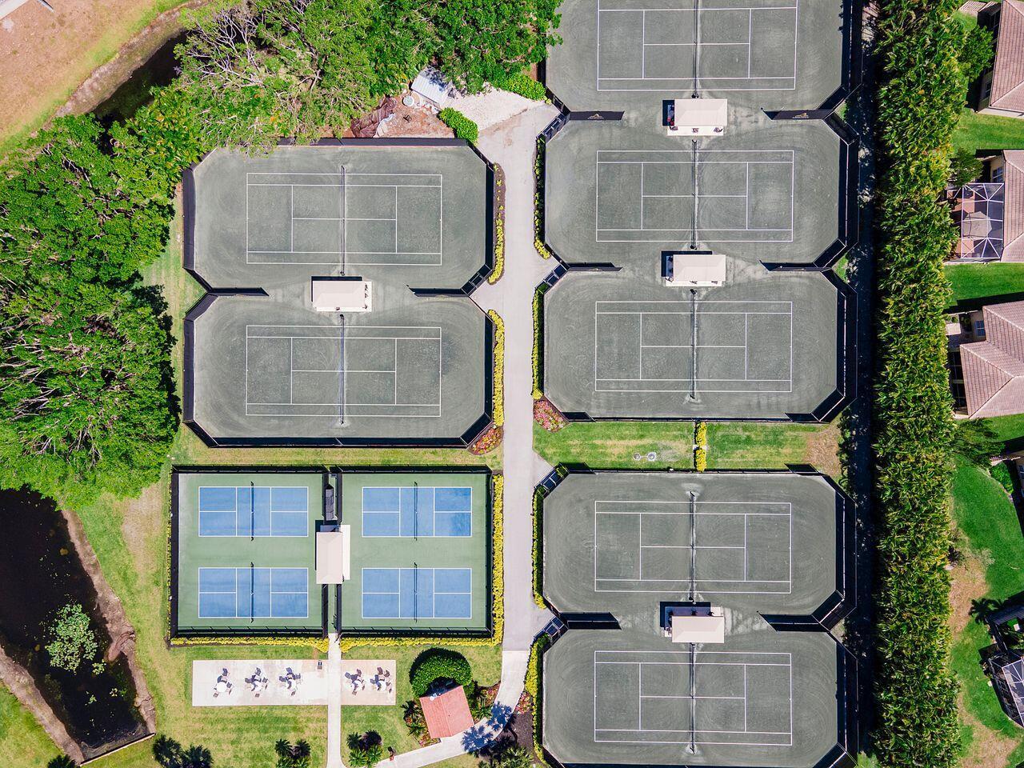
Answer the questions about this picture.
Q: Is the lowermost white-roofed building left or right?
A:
right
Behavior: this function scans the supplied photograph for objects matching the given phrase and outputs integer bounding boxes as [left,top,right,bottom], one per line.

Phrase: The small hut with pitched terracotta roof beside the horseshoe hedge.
[420,679,474,737]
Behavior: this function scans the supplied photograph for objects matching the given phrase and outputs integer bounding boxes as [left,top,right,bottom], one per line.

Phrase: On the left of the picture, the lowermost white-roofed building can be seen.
[316,525,350,584]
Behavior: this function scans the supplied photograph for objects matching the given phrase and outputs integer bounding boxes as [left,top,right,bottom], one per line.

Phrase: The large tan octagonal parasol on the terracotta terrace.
[963,212,990,238]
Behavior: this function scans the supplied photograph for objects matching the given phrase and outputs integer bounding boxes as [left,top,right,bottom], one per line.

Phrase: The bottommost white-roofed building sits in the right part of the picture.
[665,606,724,643]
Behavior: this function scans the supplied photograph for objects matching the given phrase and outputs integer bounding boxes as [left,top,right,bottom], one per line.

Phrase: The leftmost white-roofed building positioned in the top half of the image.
[313,280,372,312]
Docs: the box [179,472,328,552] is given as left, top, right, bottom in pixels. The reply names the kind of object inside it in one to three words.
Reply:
sports court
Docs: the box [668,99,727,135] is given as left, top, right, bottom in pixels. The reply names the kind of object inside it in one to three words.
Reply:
building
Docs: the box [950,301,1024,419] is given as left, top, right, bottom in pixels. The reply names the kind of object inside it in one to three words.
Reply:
house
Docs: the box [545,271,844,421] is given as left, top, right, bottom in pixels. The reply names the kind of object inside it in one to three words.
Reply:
tennis court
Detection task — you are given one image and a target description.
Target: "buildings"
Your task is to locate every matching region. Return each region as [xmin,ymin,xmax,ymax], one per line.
[668,99,727,135]
[950,301,1024,419]
[420,679,474,737]
[328,487,338,523]
[666,254,726,287]
[980,0,1024,118]
[412,71,453,111]
[313,280,372,312]
[316,525,350,584]
[665,606,724,643]
[990,149,1024,262]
